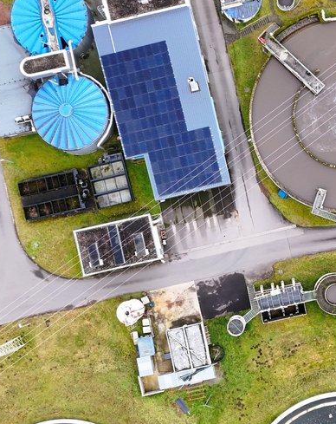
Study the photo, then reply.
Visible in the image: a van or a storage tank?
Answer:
storage tank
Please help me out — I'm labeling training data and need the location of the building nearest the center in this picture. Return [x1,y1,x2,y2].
[74,215,165,276]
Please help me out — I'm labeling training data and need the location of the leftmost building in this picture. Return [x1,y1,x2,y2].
[17,41,80,81]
